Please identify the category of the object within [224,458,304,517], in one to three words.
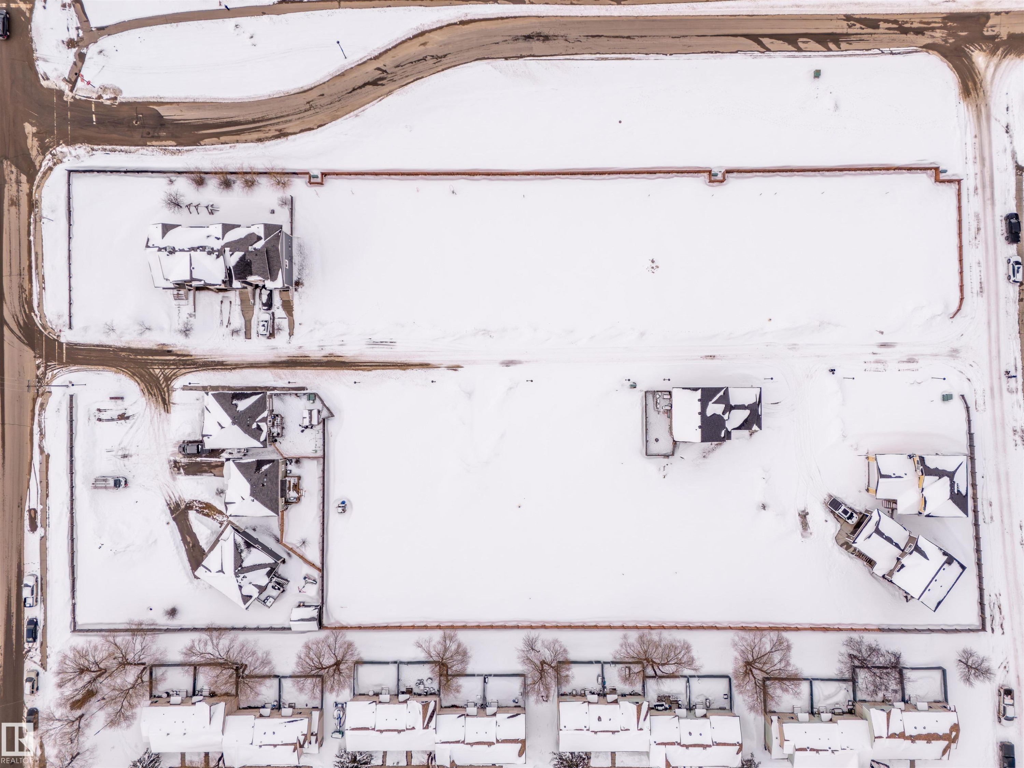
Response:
house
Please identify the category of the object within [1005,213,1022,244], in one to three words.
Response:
vehicle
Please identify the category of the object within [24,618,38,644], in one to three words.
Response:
car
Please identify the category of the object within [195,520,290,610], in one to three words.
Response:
house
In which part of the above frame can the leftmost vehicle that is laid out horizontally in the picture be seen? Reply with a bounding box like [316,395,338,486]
[91,476,127,490]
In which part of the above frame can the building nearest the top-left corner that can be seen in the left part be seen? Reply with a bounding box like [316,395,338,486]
[145,223,293,312]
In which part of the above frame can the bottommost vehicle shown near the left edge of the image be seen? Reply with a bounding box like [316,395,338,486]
[25,707,40,733]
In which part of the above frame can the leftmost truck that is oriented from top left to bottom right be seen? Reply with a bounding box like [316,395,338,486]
[826,497,858,524]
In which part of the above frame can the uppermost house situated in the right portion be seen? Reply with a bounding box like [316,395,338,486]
[655,387,762,443]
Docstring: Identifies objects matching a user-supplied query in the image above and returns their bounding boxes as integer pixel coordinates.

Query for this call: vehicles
[22,574,39,607]
[24,669,39,696]
[260,288,273,313]
[1008,257,1024,283]
[1005,213,1022,244]
[258,313,271,337]
[24,618,38,644]
[179,442,211,456]
[826,497,858,524]
[998,687,1015,726]
[999,741,1015,768]
[0,11,11,40]
[91,476,127,490]
[25,707,40,733]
